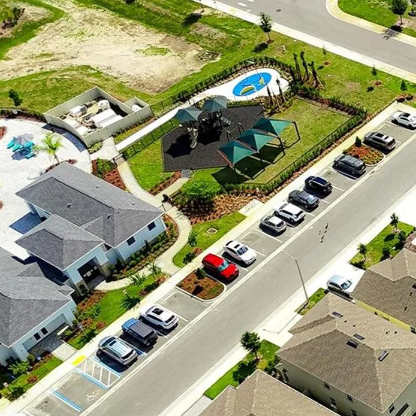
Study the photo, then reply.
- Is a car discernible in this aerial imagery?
Yes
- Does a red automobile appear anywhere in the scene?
Yes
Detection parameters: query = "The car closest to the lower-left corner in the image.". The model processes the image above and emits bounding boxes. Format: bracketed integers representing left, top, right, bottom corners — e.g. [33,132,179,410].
[94,341,137,371]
